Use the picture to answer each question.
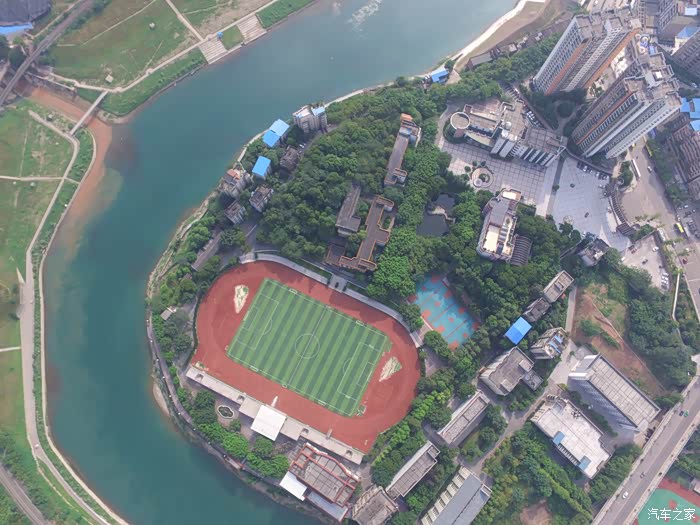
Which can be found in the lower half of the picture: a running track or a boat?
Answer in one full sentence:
You can see a running track in the lower half of the picture.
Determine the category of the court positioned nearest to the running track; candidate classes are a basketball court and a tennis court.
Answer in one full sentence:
I'd identify the court positioned nearest to the running track as a basketball court.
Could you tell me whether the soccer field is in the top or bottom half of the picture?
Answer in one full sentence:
Seen from above, the soccer field lies in the bottom half of the view.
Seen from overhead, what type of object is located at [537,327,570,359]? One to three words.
house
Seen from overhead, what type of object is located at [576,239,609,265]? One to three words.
house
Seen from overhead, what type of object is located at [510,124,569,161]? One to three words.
building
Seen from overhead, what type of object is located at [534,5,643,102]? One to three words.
building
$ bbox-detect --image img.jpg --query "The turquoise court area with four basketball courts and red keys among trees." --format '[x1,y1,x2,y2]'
[412,273,483,348]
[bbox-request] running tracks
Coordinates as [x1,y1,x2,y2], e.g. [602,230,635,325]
[192,261,421,454]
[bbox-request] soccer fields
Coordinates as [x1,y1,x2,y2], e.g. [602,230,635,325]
[227,278,392,418]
